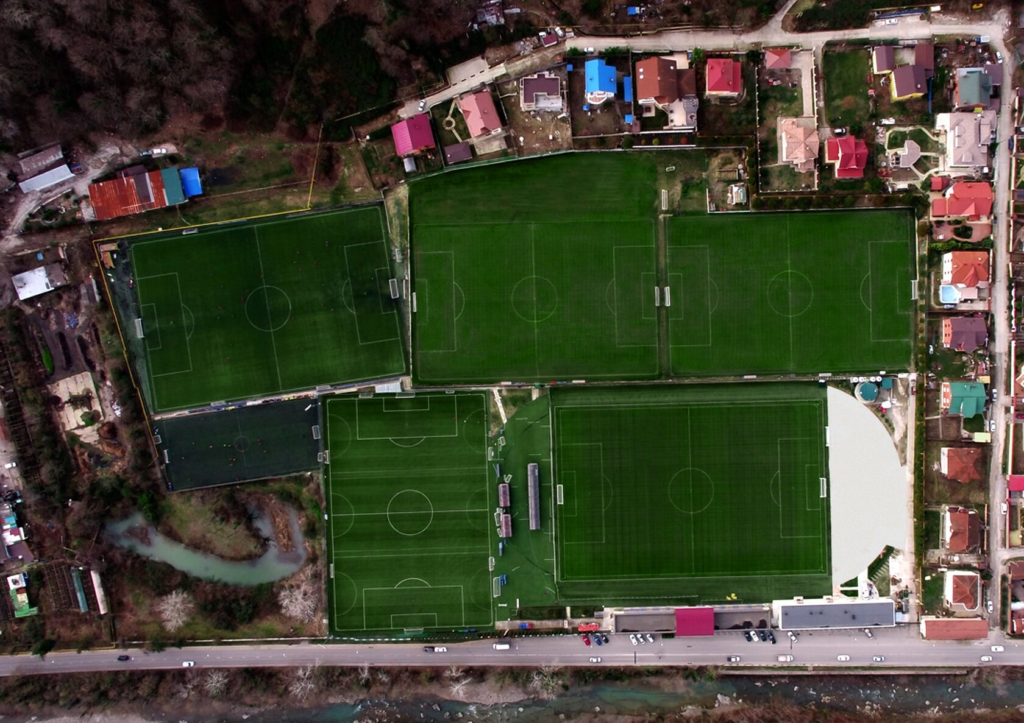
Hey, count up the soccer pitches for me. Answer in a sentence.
Altogether the scene contains 6 soccer pitches.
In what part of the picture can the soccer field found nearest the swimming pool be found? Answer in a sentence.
The soccer field found nearest the swimming pool is located in the right region of the scene.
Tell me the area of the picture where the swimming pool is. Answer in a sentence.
The swimming pool appears toward the right of the photo.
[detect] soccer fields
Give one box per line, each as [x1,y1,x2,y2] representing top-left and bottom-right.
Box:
[667,209,916,379]
[322,390,496,637]
[551,379,832,607]
[126,201,407,415]
[409,150,660,386]
[156,397,323,491]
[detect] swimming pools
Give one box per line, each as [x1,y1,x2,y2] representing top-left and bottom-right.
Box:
[939,284,960,304]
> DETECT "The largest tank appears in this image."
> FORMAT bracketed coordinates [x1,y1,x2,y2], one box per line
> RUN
[856,381,881,404]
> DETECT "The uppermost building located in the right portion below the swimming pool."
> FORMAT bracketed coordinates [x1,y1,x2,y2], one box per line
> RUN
[941,318,987,351]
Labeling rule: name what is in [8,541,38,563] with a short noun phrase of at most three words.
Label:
building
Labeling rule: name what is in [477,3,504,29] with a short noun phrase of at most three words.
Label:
shed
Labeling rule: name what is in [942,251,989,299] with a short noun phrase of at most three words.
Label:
house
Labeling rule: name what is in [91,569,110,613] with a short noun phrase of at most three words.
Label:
greenhouse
